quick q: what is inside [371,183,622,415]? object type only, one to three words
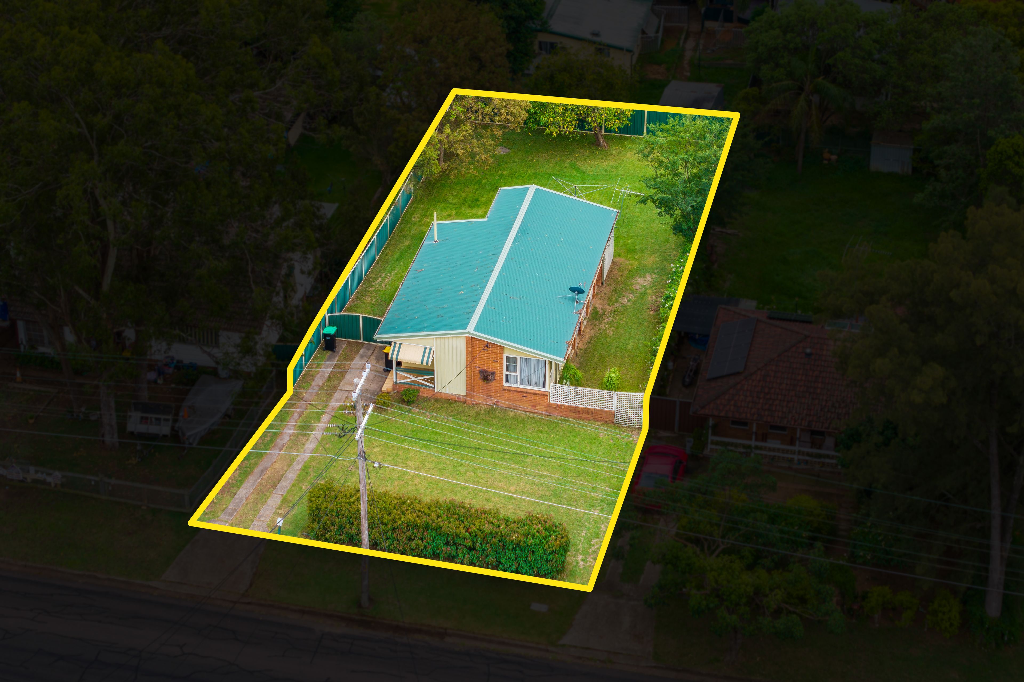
house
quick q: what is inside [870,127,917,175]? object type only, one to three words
shed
